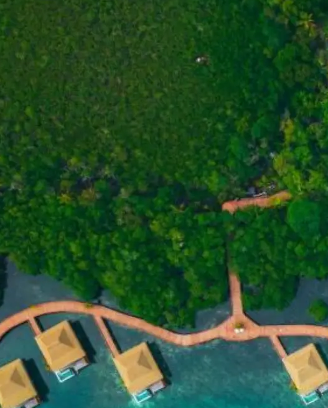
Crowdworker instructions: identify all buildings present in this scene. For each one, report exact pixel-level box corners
[0,359,42,408]
[282,344,328,394]
[36,322,90,373]
[114,343,166,393]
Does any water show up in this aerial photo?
Yes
